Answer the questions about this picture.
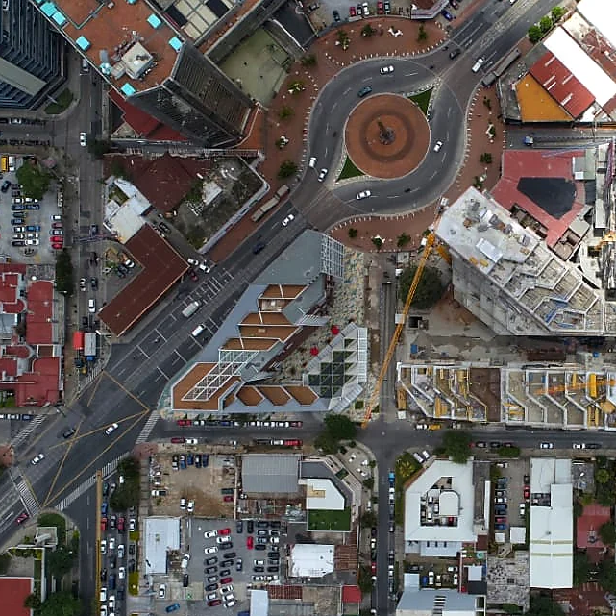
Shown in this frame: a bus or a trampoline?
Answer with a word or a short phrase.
bus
